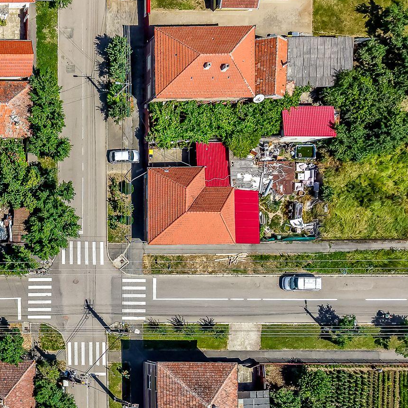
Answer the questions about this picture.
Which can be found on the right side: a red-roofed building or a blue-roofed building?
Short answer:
red-roofed building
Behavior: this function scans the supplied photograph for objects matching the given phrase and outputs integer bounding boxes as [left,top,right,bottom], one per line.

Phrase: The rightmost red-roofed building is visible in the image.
[270,106,337,140]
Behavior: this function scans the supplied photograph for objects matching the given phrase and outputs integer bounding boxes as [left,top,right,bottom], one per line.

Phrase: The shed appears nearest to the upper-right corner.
[287,37,354,90]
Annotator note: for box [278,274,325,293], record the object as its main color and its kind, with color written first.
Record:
white car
